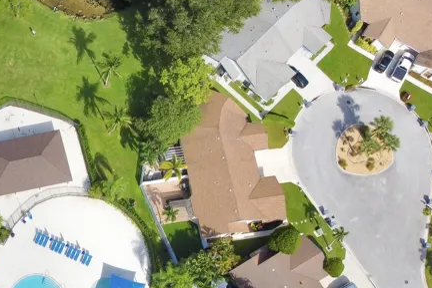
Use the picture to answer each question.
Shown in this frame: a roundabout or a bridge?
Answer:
roundabout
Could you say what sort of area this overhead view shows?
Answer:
residential area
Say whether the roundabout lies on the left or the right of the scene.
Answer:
right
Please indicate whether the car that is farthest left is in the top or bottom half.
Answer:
top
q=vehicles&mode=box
[290,62,312,89]
[388,52,415,78]
[373,49,396,72]
[342,281,360,288]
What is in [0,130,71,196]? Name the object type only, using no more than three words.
building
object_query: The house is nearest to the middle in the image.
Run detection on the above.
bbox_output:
[180,90,285,238]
